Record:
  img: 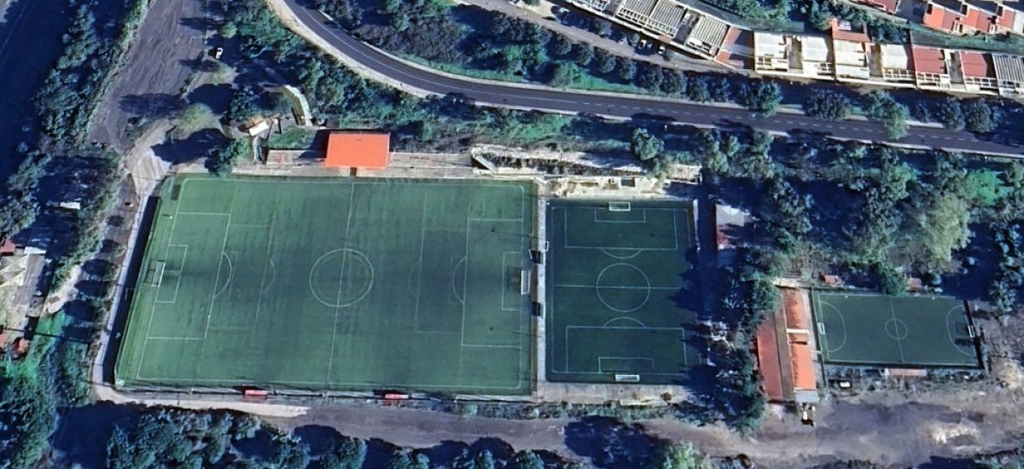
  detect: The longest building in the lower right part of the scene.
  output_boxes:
[756,289,822,403]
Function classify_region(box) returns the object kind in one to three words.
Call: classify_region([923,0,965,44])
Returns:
house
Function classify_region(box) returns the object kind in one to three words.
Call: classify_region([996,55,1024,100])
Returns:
house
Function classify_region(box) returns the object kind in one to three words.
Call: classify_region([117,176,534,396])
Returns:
soccer field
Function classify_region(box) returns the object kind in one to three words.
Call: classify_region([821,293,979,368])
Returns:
sports court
